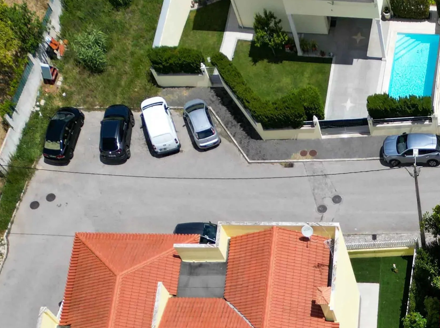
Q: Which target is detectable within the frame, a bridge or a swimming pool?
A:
swimming pool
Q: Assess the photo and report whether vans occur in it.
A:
Yes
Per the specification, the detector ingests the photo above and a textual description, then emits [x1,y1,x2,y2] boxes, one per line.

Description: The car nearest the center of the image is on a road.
[182,101,224,151]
